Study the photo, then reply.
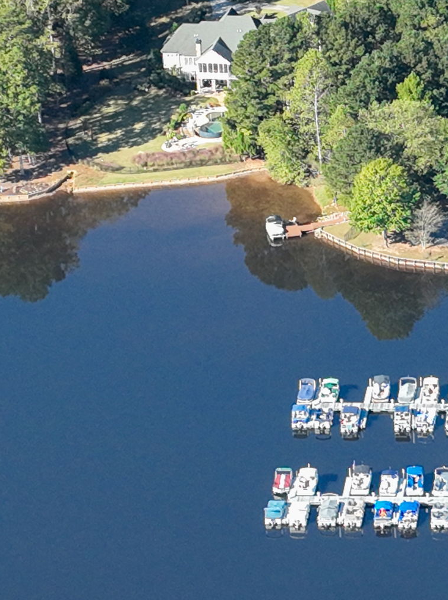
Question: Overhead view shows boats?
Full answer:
Yes, the photo shows a boat.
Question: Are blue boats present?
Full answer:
Yes, a blue boat is visible in the scene.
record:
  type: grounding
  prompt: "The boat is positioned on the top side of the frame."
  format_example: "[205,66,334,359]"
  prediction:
[267,221,284,245]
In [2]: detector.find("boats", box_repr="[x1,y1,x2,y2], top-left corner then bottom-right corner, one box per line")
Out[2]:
[295,372,317,406]
[396,370,417,403]
[349,463,374,495]
[286,499,310,533]
[316,499,340,533]
[371,501,396,536]
[313,405,335,435]
[318,374,341,404]
[371,374,392,403]
[433,459,448,495]
[392,408,414,436]
[264,498,289,530]
[295,463,321,495]
[404,463,427,495]
[378,463,400,495]
[342,501,366,533]
[415,408,437,437]
[419,374,441,403]
[340,408,362,436]
[428,501,448,533]
[398,501,421,533]
[267,221,284,245]
[291,405,315,434]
